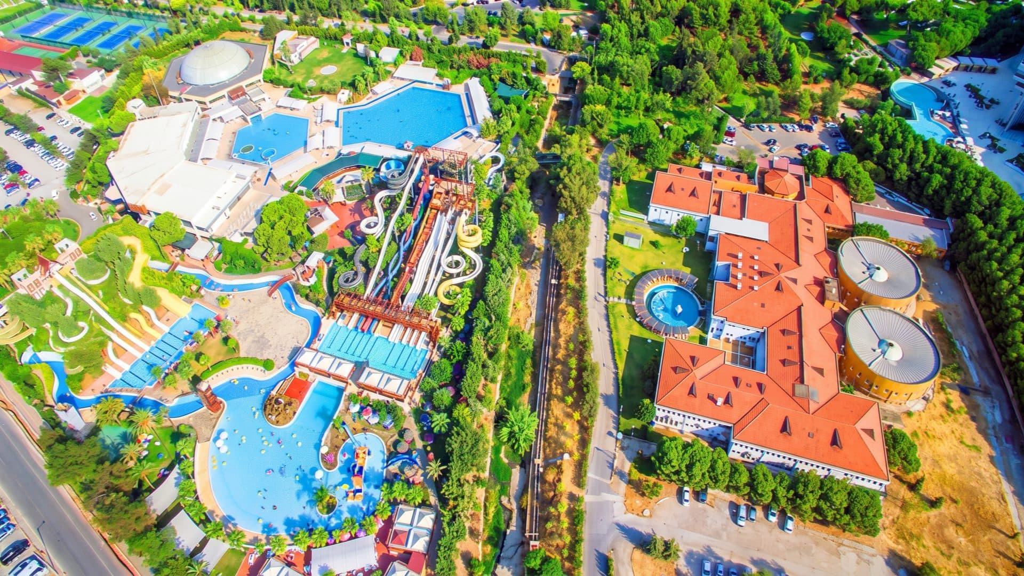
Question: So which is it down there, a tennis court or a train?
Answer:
tennis court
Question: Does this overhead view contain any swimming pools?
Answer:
Yes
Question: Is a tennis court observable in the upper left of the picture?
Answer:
Yes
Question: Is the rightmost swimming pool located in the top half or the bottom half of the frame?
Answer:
top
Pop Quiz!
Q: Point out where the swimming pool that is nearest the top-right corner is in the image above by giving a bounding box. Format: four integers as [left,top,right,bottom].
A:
[890,80,959,145]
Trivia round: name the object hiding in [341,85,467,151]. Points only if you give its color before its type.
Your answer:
blue swimming pool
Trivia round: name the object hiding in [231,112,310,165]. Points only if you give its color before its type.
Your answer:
blue swimming pool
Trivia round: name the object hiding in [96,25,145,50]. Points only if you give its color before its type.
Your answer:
blue tennis court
